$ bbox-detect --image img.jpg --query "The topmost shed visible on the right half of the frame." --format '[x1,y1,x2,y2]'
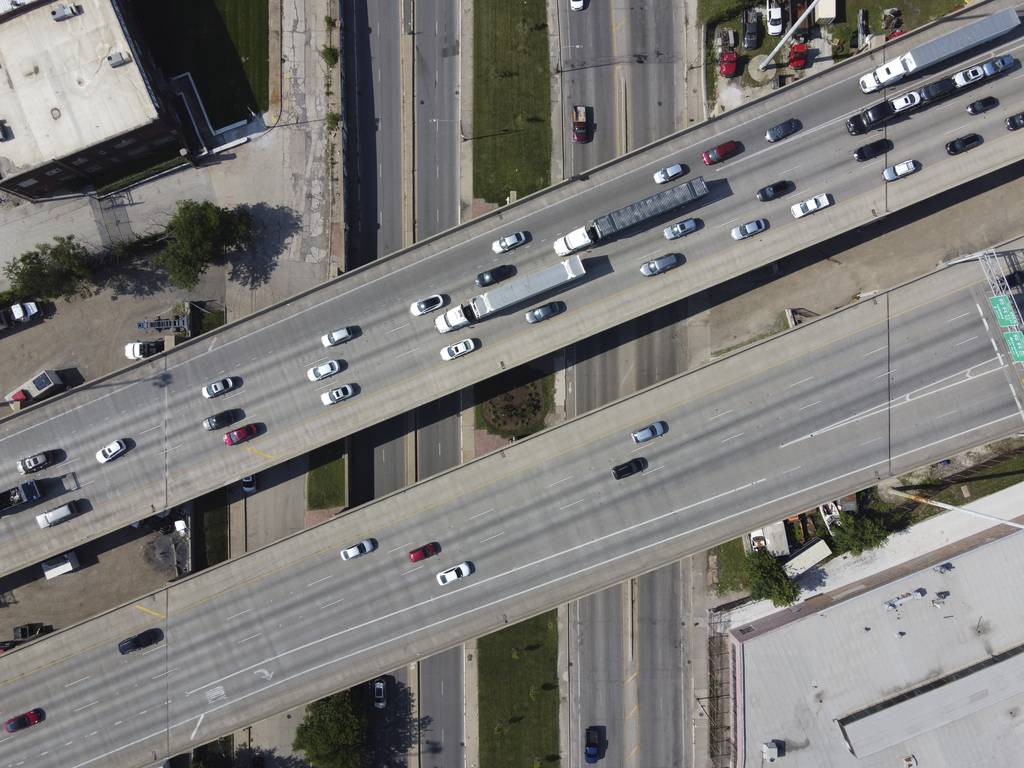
[835,491,856,510]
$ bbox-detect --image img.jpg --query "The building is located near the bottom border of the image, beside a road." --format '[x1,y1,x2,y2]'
[728,513,1024,768]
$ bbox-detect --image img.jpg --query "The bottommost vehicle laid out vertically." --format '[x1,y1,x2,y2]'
[584,723,600,762]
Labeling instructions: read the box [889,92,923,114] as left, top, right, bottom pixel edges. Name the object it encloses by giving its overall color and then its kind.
white car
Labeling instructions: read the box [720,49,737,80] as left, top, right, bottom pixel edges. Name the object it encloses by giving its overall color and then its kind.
red car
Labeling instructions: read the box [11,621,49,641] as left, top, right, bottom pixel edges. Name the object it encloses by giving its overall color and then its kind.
black vehicle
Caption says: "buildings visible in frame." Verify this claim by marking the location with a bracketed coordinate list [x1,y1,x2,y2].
[0,0,189,217]
[835,491,856,510]
[728,513,1024,768]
